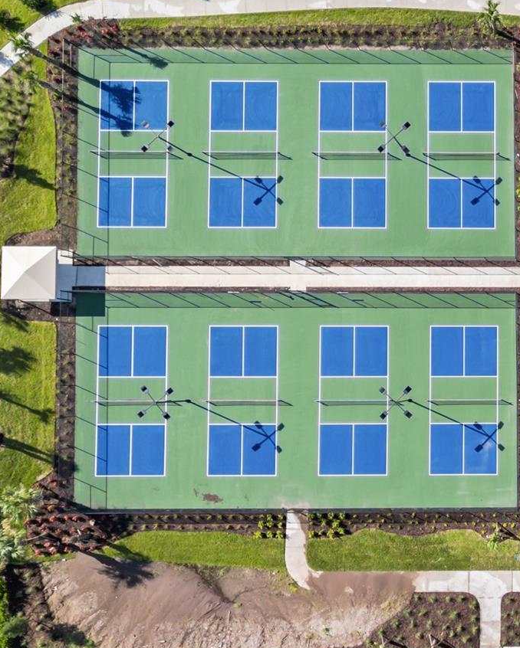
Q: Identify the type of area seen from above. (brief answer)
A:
sports ground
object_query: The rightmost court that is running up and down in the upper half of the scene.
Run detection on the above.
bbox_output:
[428,80,496,228]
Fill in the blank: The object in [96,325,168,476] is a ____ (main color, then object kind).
blue sports court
